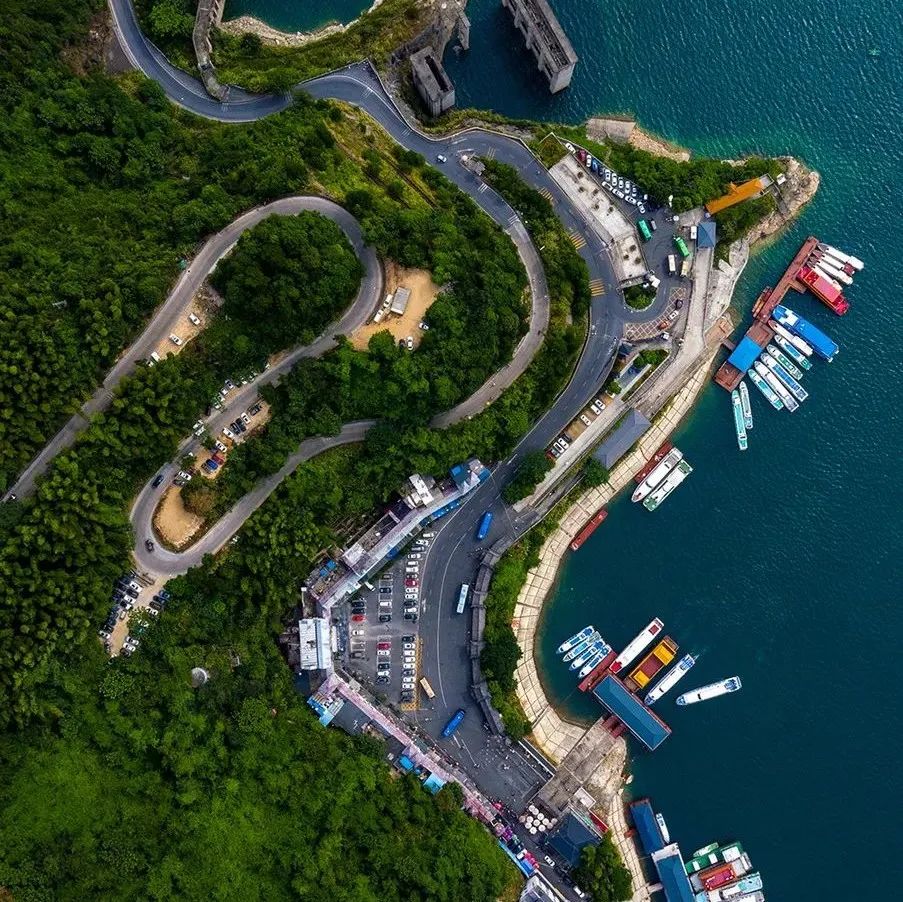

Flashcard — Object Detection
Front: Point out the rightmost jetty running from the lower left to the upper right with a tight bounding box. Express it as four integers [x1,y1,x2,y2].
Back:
[757,236,820,324]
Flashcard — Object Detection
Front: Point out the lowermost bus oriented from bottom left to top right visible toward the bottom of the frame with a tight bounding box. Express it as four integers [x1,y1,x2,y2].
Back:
[443,709,466,736]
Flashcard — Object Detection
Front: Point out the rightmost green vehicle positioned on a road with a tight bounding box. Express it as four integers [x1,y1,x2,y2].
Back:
[673,238,689,257]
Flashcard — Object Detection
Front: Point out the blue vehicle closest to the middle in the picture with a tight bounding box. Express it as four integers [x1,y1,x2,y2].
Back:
[477,512,493,539]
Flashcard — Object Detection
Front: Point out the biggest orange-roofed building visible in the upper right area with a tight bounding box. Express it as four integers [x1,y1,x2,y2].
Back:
[703,179,764,216]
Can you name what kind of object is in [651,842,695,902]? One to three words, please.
pier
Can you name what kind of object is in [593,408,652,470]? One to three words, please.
building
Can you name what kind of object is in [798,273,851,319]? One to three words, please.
boat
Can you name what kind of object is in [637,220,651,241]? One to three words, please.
vehicle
